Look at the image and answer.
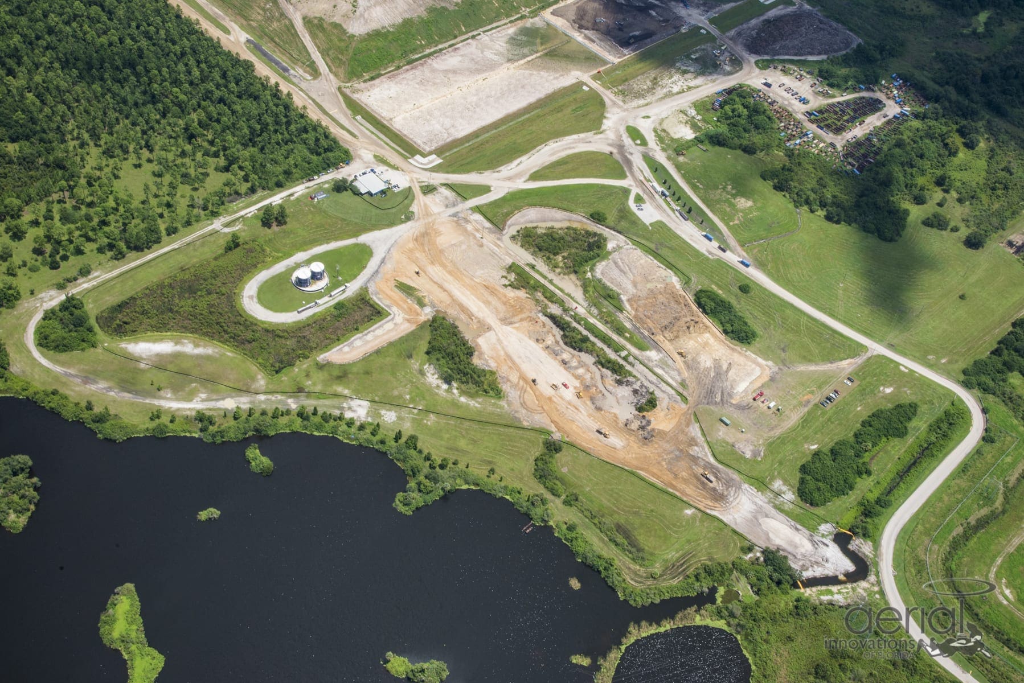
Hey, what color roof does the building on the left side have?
white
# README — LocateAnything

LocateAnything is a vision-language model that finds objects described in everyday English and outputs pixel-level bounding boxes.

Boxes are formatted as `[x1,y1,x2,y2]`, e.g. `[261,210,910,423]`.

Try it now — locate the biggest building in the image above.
[352,172,388,198]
